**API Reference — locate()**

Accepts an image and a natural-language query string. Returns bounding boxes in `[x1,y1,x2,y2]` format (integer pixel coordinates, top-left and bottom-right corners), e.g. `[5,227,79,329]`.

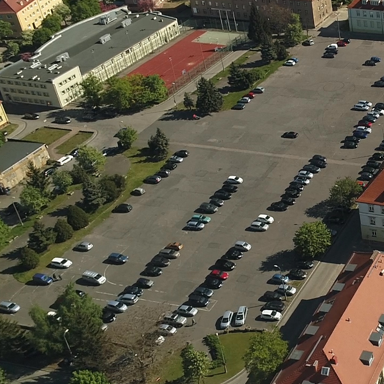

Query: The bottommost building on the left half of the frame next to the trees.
[0,138,51,193]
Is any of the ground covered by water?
No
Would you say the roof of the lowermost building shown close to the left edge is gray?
Yes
